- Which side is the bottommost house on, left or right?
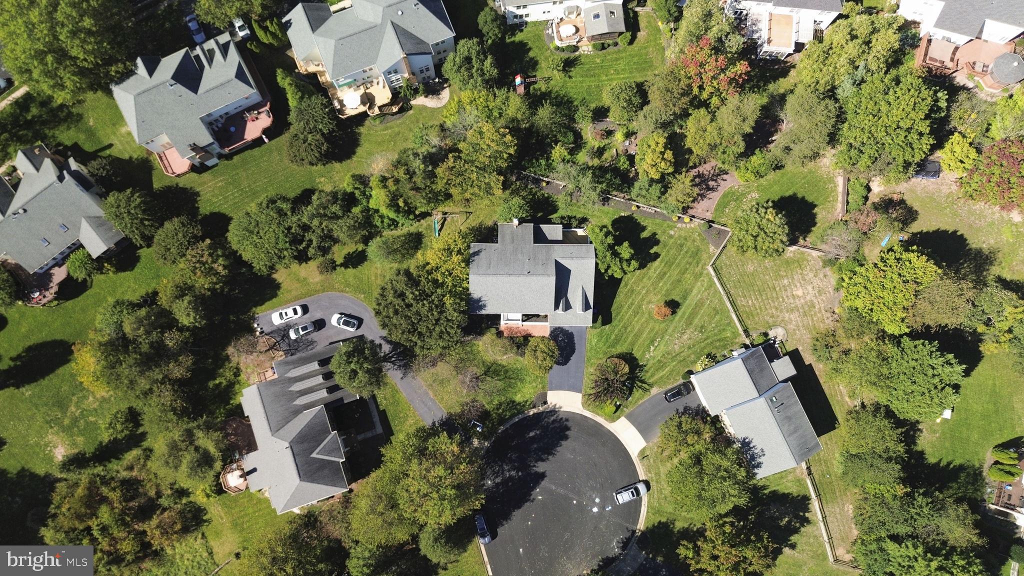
right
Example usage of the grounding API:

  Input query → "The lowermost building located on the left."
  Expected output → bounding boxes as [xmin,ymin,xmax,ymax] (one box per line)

[218,342,360,515]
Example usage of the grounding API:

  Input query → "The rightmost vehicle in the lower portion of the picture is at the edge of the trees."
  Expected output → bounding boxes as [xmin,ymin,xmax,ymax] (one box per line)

[662,382,695,403]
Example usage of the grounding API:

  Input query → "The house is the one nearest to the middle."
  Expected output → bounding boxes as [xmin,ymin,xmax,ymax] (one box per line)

[469,219,596,327]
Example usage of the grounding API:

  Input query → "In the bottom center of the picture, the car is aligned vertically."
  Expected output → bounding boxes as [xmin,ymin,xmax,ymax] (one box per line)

[474,512,493,545]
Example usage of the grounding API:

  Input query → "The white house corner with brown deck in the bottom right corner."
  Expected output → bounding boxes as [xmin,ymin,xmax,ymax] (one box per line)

[976,458,1024,527]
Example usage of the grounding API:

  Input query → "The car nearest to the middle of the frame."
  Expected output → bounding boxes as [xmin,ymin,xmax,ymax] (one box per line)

[330,313,361,332]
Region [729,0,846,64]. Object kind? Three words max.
house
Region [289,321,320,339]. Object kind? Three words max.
car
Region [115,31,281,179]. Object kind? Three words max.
house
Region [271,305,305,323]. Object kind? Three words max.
car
